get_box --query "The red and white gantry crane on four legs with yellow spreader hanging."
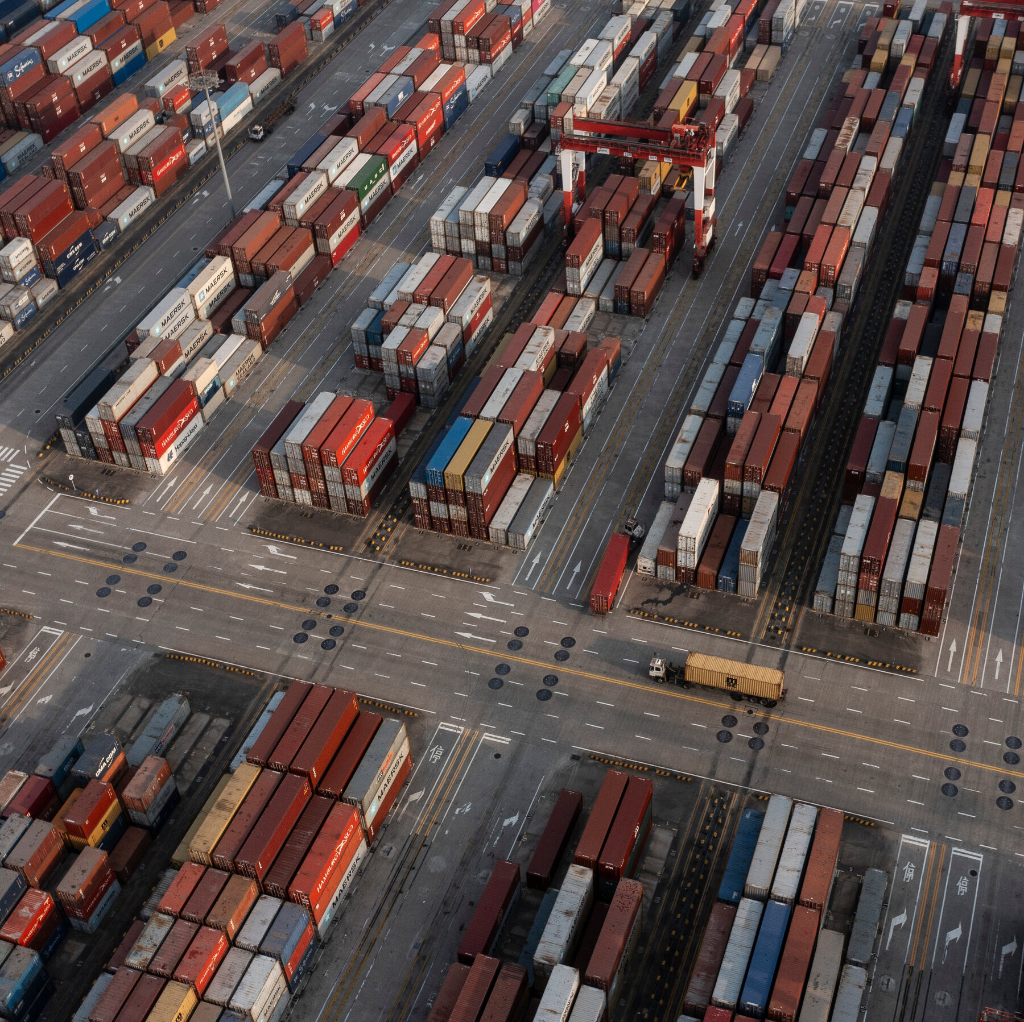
[553,108,724,276]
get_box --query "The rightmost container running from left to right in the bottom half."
[686,651,785,701]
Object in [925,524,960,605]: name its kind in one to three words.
shipping container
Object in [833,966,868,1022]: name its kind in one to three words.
shipping container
